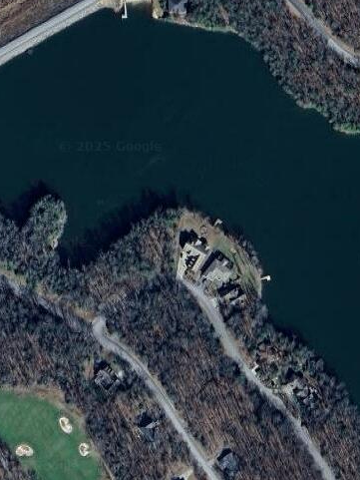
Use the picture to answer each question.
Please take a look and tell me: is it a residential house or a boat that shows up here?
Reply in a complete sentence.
Visible in the photo is a residential house.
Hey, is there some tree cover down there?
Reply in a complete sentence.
Yes, there's tree cover in this view.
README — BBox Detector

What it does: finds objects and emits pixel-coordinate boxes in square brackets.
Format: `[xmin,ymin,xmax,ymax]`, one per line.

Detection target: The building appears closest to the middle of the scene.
[181,231,207,263]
